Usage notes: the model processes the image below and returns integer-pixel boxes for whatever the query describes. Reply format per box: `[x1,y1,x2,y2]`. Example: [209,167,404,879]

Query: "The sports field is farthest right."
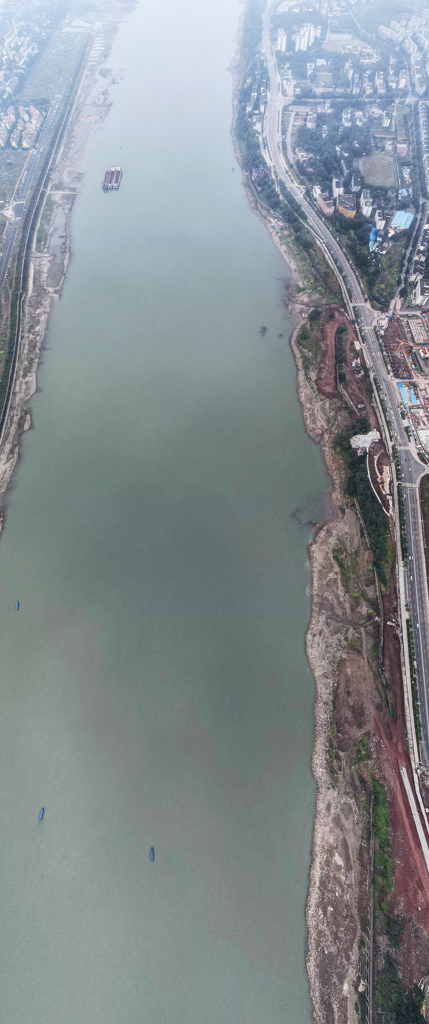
[360,155,397,185]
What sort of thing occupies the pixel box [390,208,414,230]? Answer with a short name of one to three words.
building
